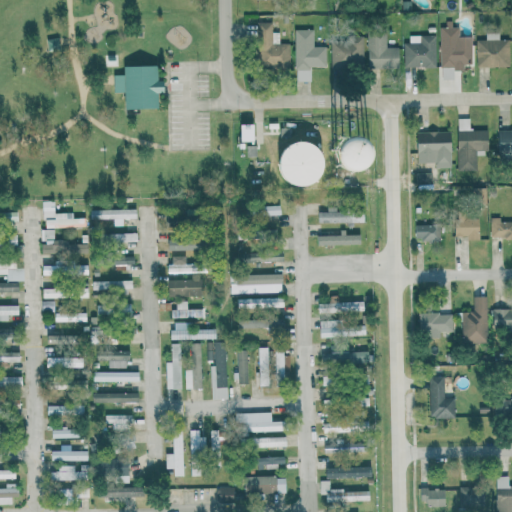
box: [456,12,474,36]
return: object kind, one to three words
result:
swimming pool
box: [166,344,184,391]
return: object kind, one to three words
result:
house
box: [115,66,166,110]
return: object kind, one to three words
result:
building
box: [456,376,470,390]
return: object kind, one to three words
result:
swimming pool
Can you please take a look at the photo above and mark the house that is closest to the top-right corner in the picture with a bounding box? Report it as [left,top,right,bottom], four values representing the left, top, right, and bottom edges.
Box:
[478,33,511,67]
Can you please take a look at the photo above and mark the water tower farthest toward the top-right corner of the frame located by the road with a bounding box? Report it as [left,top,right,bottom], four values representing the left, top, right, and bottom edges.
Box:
[330,132,376,170]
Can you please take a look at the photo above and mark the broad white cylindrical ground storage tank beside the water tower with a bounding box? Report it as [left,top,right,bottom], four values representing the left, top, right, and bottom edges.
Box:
[278,141,326,186]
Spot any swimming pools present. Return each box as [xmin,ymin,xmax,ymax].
[456,12,474,36]
[456,376,470,390]
[414,0,432,10]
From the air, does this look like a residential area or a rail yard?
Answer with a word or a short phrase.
residential area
